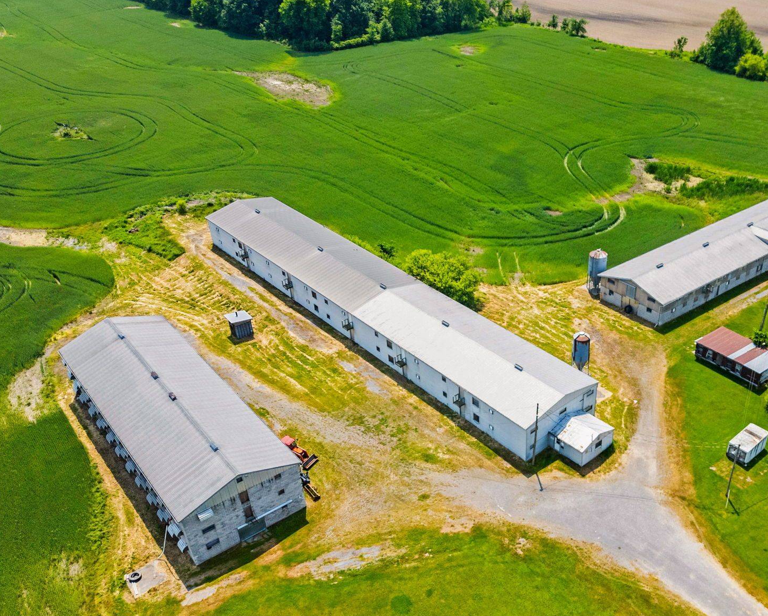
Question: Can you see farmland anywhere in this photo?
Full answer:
Yes, there's farmland in this view.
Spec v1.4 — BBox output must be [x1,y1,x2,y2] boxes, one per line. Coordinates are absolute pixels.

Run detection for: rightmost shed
[695,323,768,387]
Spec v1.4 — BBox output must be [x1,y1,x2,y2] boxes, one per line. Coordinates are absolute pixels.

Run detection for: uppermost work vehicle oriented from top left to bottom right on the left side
[281,434,322,470]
